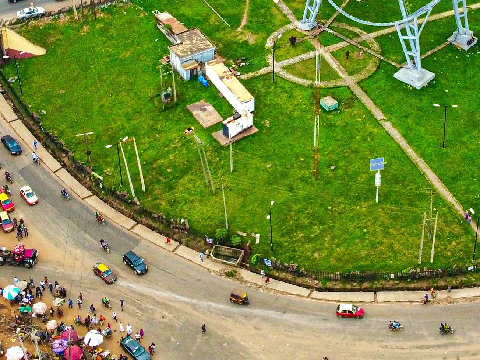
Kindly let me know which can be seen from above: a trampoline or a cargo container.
cargo container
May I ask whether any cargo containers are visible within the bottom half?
No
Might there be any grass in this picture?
Yes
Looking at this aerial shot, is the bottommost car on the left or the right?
left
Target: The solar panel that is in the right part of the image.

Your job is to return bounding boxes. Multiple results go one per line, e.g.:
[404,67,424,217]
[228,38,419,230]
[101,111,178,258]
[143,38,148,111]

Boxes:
[369,155,388,171]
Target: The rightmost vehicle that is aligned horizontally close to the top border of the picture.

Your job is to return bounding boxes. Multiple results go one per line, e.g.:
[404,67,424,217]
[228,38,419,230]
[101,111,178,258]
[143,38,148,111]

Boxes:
[17,5,44,19]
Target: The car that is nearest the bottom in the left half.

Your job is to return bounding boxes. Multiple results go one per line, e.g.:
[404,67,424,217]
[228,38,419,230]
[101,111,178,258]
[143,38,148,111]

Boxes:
[121,333,149,360]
